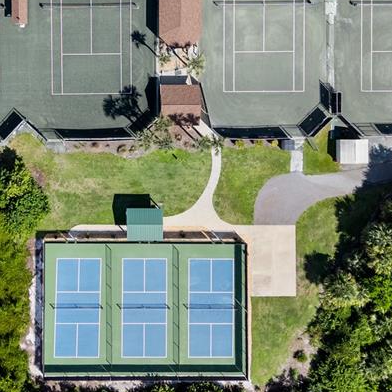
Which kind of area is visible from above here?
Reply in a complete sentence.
The area seen from above is a sports ground.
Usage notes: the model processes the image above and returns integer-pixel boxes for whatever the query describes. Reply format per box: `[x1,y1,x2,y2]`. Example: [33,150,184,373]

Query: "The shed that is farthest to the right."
[334,140,368,164]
